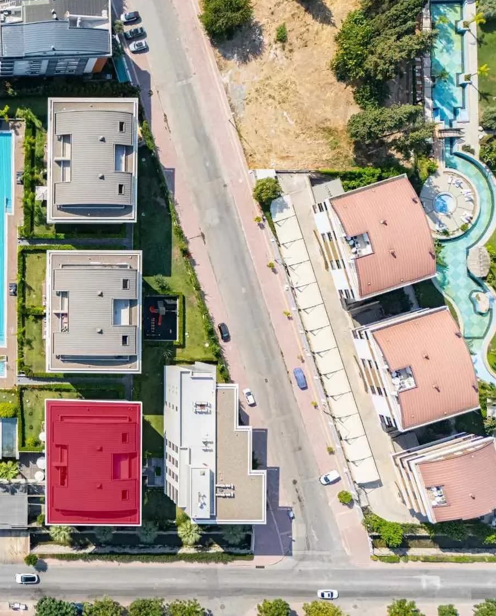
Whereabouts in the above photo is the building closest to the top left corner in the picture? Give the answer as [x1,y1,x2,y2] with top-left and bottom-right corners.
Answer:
[0,0,111,78]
